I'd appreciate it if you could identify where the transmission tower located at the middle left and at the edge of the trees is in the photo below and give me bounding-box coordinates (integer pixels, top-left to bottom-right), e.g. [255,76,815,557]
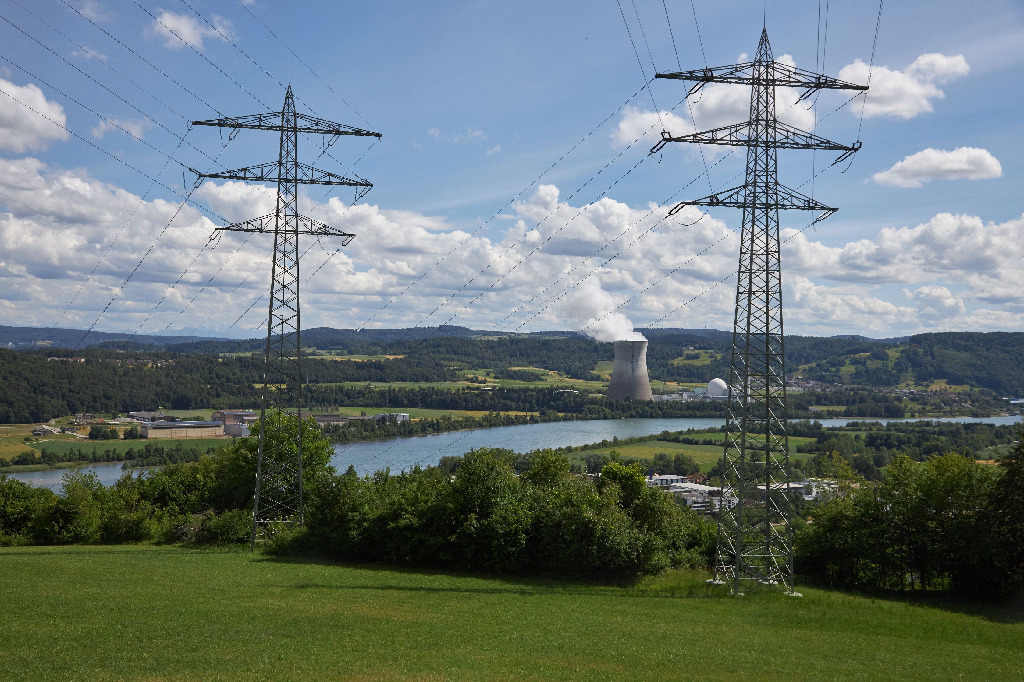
[173,55,381,545]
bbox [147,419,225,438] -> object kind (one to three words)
building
